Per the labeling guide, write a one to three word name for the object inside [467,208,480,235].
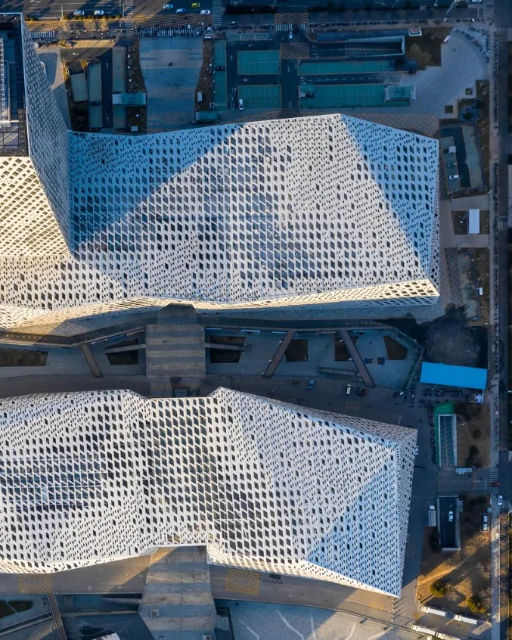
building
